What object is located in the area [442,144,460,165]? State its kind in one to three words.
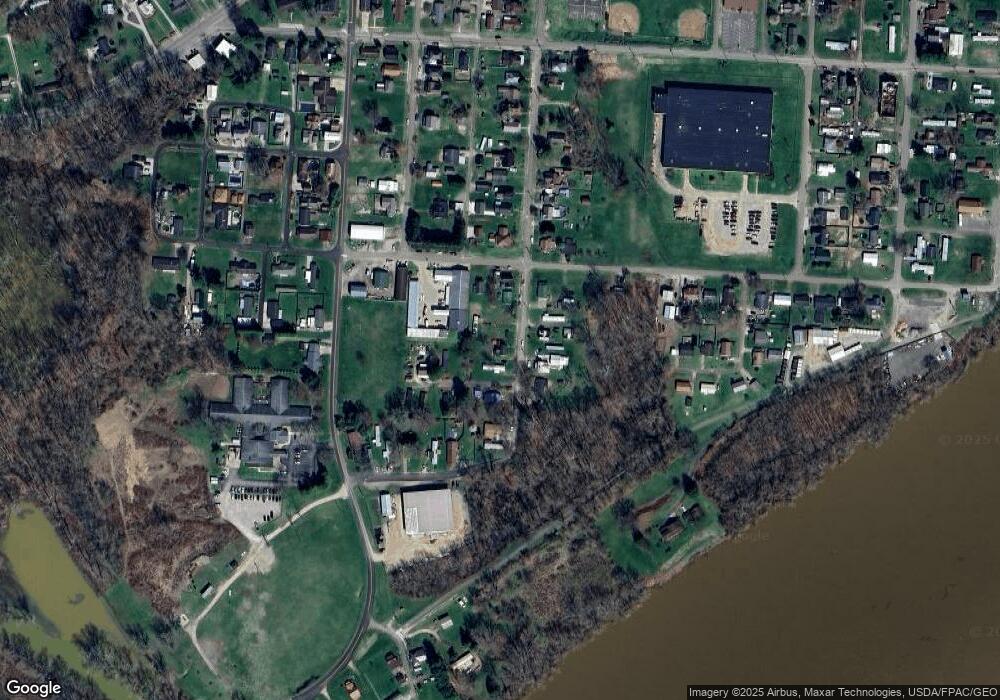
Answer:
house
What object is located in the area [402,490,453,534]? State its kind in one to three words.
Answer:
building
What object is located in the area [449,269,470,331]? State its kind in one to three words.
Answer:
building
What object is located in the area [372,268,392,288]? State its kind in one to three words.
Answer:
house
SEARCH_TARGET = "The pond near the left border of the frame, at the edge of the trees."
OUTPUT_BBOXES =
[0,501,134,700]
